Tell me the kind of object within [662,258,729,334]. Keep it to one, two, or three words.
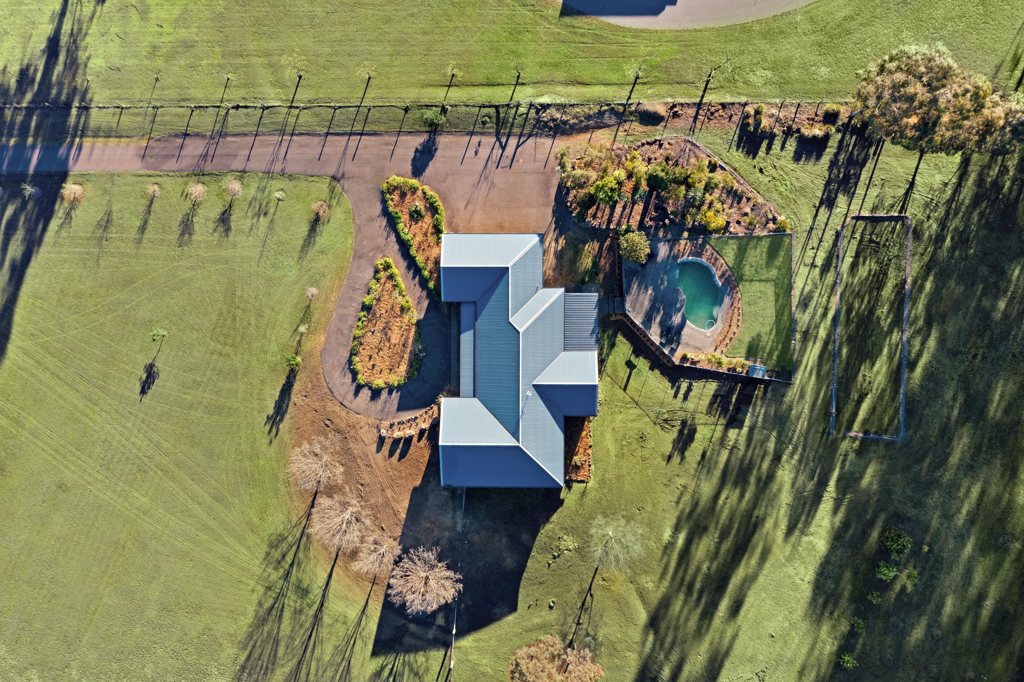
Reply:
swimming pool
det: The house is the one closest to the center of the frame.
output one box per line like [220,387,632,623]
[437,231,602,488]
